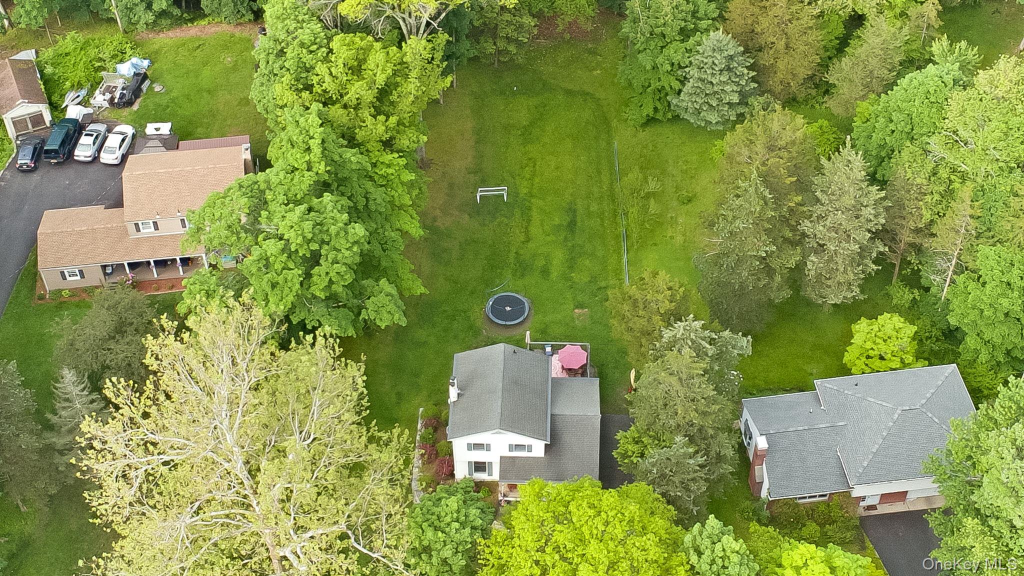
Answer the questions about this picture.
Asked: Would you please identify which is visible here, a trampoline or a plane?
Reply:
trampoline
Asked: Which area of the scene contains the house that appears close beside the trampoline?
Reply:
bottom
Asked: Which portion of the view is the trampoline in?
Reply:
center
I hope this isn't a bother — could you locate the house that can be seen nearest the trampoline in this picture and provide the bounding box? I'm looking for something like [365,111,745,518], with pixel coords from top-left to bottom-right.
[445,342,599,502]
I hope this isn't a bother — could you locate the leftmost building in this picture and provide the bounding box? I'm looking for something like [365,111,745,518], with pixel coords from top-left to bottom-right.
[0,50,51,133]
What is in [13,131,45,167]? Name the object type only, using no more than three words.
car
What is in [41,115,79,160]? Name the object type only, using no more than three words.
truck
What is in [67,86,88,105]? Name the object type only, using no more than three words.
boat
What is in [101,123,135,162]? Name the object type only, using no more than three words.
car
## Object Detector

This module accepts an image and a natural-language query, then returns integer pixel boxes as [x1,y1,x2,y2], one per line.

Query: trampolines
[486,278,530,325]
